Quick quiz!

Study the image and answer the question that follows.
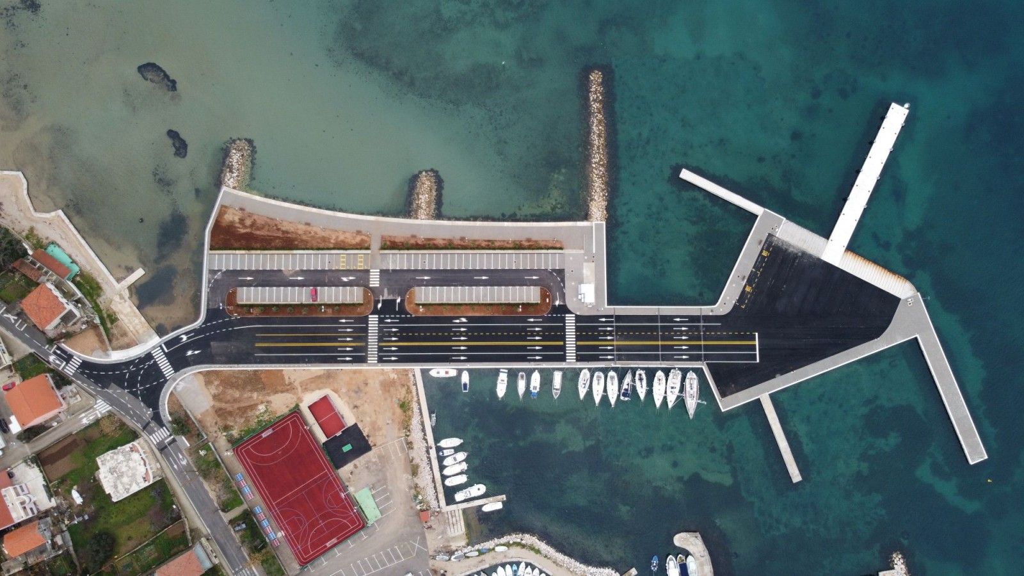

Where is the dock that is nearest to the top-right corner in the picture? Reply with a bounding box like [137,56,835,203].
[821,102,909,266]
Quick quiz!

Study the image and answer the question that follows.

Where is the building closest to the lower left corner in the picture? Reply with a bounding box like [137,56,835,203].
[1,515,56,576]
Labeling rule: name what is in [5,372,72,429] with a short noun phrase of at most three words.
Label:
house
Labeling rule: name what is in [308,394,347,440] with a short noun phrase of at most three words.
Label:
sports court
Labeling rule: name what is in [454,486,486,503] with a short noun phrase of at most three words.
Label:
boat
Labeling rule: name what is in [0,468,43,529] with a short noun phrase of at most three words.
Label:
house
